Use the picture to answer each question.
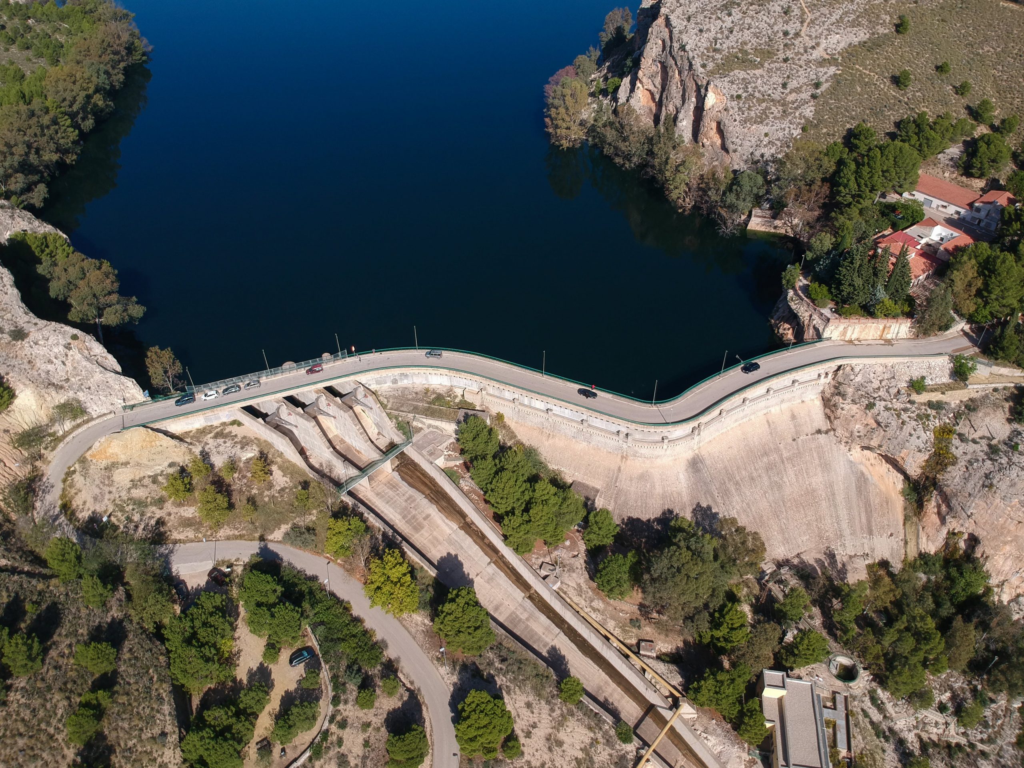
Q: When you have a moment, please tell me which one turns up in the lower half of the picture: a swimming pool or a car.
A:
car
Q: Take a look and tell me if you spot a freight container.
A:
No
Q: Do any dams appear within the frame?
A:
Yes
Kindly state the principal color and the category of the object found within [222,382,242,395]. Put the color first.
gray vehicle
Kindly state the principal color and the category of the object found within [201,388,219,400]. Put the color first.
white vehicle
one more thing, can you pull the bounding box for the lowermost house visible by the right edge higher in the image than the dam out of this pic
[873,216,974,290]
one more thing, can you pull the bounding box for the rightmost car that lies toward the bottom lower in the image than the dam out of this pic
[288,645,315,665]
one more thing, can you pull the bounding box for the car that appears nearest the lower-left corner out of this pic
[175,579,189,599]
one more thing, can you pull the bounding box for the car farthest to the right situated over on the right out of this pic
[743,360,759,372]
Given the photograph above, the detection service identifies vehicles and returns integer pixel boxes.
[288,645,315,665]
[175,579,189,599]
[244,378,262,389]
[578,386,597,399]
[426,348,443,358]
[222,382,242,395]
[208,567,228,584]
[307,362,324,374]
[175,392,195,405]
[743,360,759,372]
[201,388,219,400]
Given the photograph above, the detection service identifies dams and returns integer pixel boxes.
[125,357,937,588]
